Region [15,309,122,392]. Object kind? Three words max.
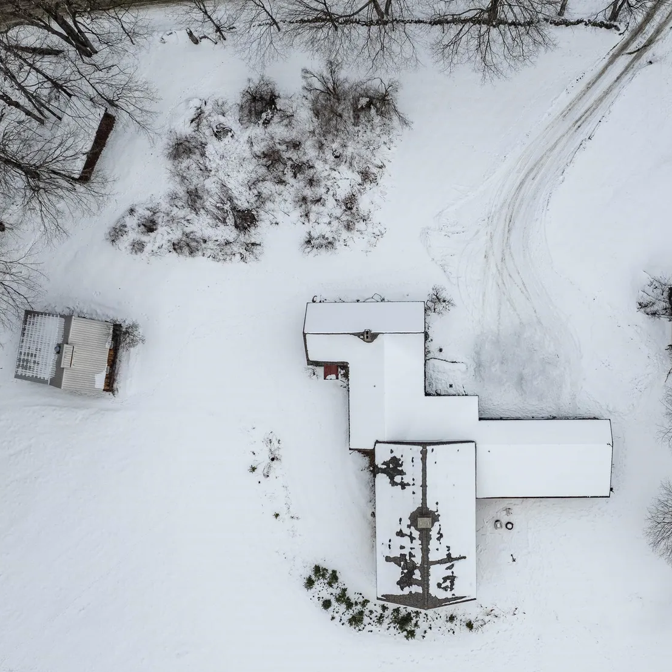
shed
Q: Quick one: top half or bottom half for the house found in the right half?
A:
bottom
